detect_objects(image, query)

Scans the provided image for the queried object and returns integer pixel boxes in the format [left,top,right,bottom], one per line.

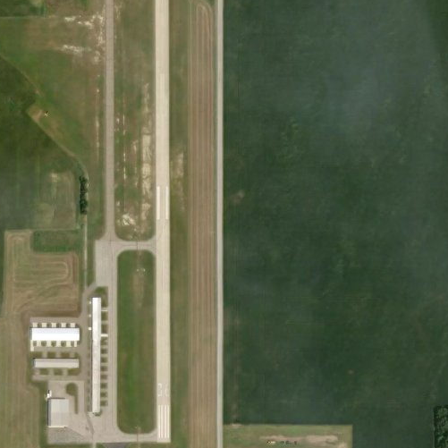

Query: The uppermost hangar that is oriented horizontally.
[31,327,80,342]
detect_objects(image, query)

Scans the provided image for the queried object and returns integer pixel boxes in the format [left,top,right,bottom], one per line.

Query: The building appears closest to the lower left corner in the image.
[49,399,69,426]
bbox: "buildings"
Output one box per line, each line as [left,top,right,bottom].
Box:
[35,359,79,369]
[49,399,69,426]
[31,327,80,342]
[92,298,101,412]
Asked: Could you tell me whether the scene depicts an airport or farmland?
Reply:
farmland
